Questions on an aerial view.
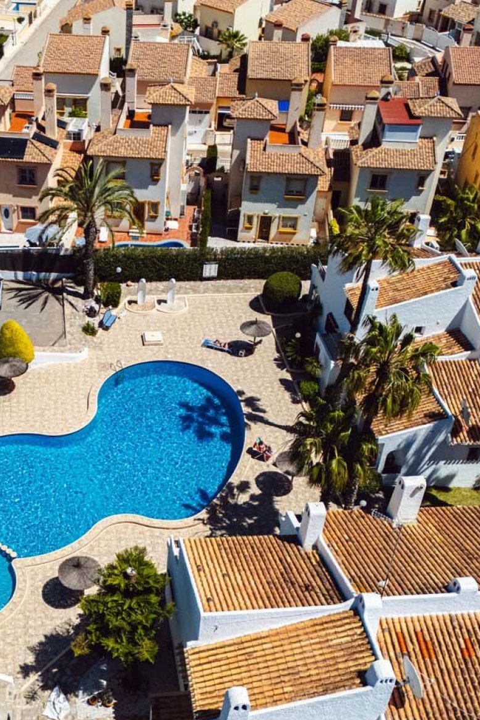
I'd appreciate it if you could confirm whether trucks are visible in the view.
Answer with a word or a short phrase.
No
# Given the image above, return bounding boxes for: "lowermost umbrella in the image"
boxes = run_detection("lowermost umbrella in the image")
[57,558,100,599]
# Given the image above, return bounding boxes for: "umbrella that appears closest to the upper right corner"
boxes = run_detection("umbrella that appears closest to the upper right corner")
[239,320,272,354]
